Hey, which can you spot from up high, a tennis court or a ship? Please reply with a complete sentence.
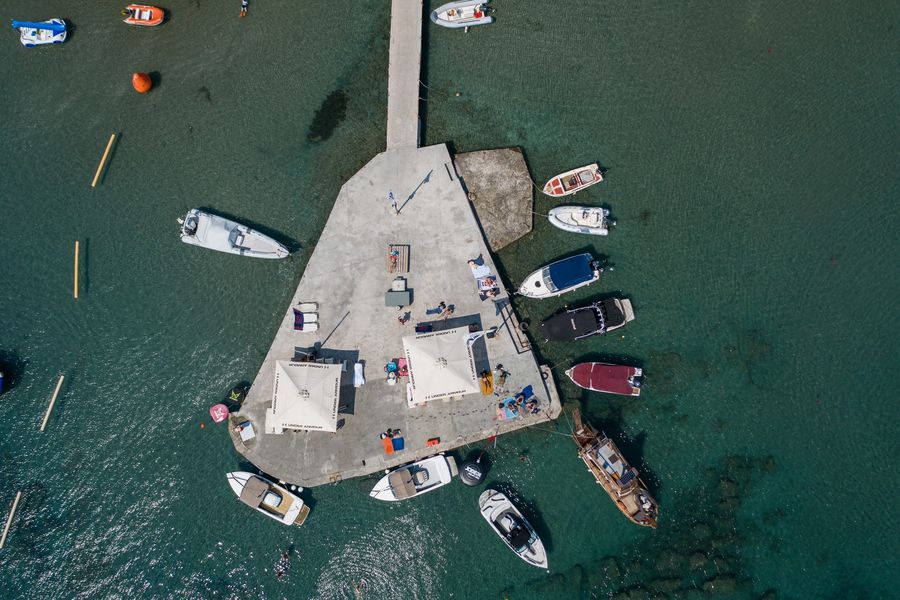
This aerial view contains a ship.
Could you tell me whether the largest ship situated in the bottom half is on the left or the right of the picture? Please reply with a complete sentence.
The largest ship situated in the bottom half appears in the right half of the scene.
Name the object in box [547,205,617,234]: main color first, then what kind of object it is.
white boat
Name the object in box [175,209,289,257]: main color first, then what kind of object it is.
white boat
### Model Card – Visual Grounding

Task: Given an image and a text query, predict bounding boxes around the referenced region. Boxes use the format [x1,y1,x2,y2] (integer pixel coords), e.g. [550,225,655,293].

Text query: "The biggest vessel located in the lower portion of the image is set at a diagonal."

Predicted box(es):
[569,408,659,532]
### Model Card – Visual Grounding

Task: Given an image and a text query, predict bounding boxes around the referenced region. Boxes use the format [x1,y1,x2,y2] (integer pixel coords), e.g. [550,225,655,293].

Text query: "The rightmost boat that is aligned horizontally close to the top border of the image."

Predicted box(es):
[429,0,499,32]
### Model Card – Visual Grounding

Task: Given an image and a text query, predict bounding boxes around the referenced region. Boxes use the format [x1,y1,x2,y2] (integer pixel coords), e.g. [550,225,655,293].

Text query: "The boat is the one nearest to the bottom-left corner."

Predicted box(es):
[225,472,310,524]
